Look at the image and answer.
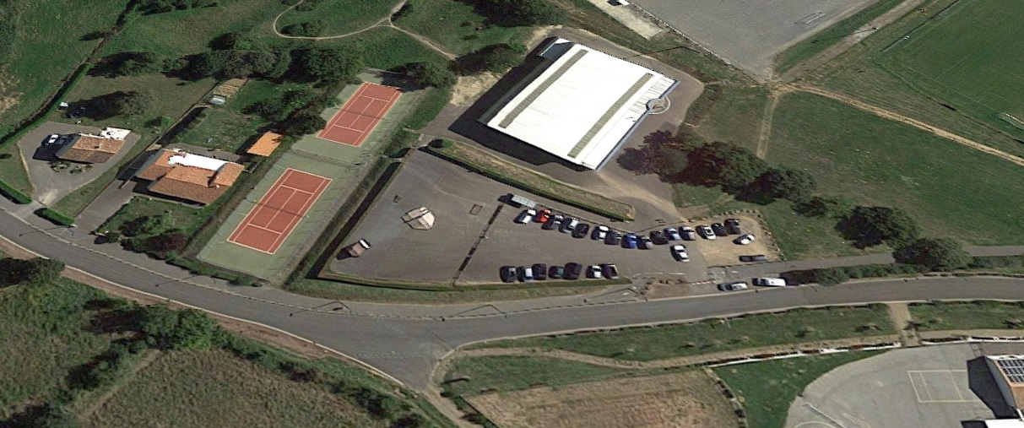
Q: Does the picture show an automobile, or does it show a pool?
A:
automobile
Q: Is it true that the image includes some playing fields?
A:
Yes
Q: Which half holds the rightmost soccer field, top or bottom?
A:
top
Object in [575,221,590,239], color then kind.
black car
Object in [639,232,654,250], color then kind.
gray car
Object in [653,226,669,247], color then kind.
black car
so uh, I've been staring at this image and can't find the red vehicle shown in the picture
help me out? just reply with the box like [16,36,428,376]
[538,206,552,224]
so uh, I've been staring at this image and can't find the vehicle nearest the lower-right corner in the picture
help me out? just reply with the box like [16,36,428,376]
[756,275,785,288]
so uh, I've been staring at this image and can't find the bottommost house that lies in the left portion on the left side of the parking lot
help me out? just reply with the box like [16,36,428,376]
[134,150,245,207]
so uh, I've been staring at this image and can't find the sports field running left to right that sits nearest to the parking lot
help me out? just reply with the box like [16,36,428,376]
[670,87,1024,260]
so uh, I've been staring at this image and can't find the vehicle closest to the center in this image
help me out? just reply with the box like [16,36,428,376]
[519,206,536,223]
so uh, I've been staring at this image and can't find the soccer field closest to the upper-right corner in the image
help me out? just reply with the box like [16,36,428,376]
[880,0,1024,124]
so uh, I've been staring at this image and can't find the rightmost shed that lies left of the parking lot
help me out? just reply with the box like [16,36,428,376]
[247,133,284,160]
